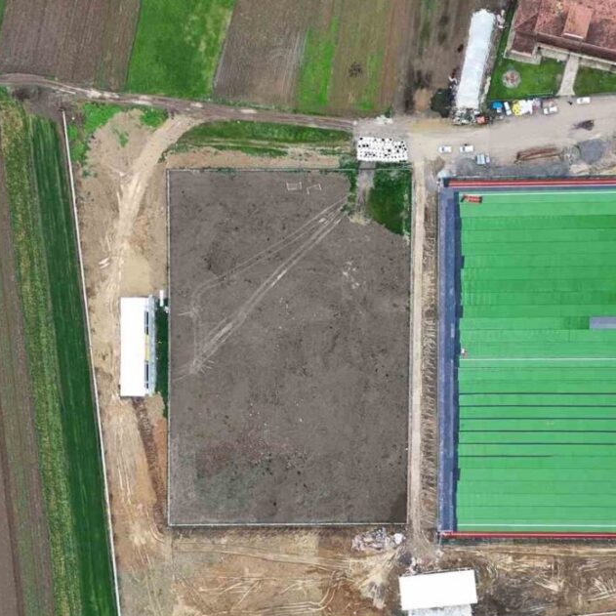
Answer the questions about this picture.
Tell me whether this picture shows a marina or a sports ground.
sports ground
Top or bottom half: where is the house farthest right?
top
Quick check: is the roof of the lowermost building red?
No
